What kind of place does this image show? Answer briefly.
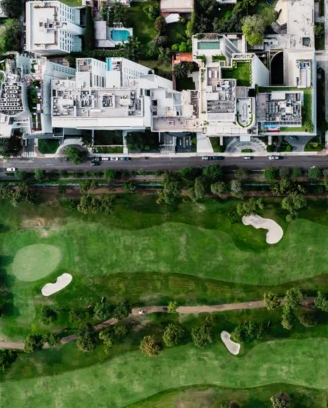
golf course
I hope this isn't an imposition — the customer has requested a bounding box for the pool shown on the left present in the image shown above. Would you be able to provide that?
[109,28,131,41]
